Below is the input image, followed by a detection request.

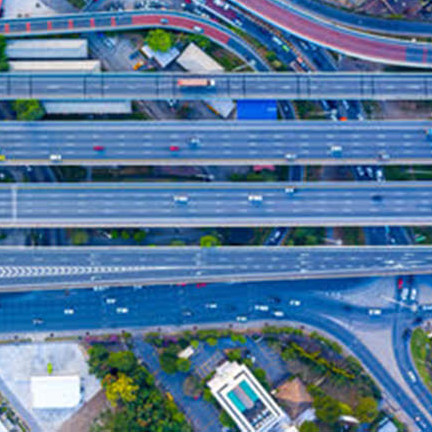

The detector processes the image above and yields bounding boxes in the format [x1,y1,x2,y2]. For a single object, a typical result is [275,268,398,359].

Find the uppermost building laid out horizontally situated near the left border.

[5,38,90,59]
